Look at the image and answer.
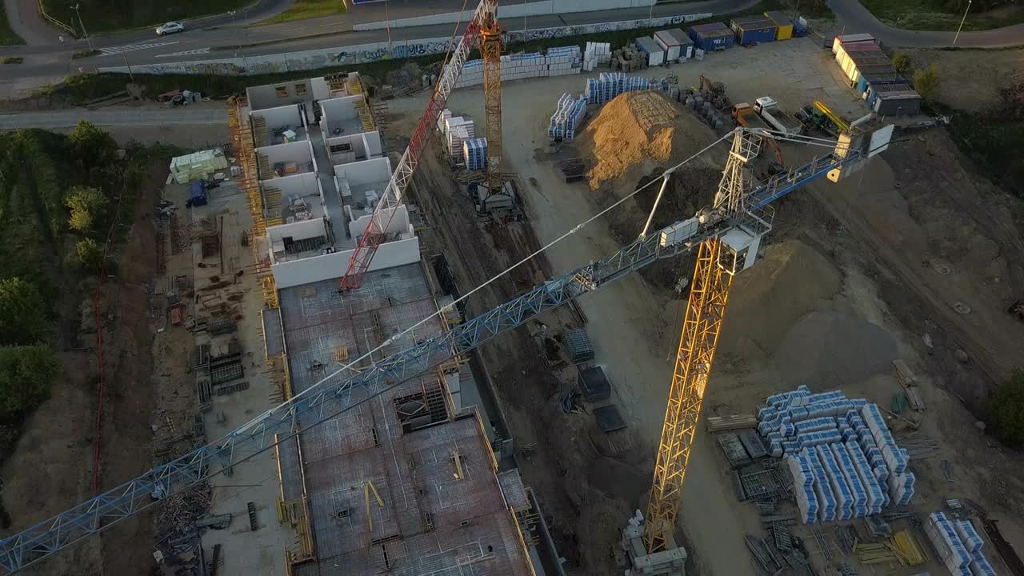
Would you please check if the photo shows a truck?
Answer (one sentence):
Yes, the picture does show a truck.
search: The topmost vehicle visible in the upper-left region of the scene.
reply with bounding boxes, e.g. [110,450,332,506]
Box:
[155,21,182,34]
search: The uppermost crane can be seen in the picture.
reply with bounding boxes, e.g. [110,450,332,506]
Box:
[333,0,519,293]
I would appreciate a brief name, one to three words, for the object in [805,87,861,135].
truck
